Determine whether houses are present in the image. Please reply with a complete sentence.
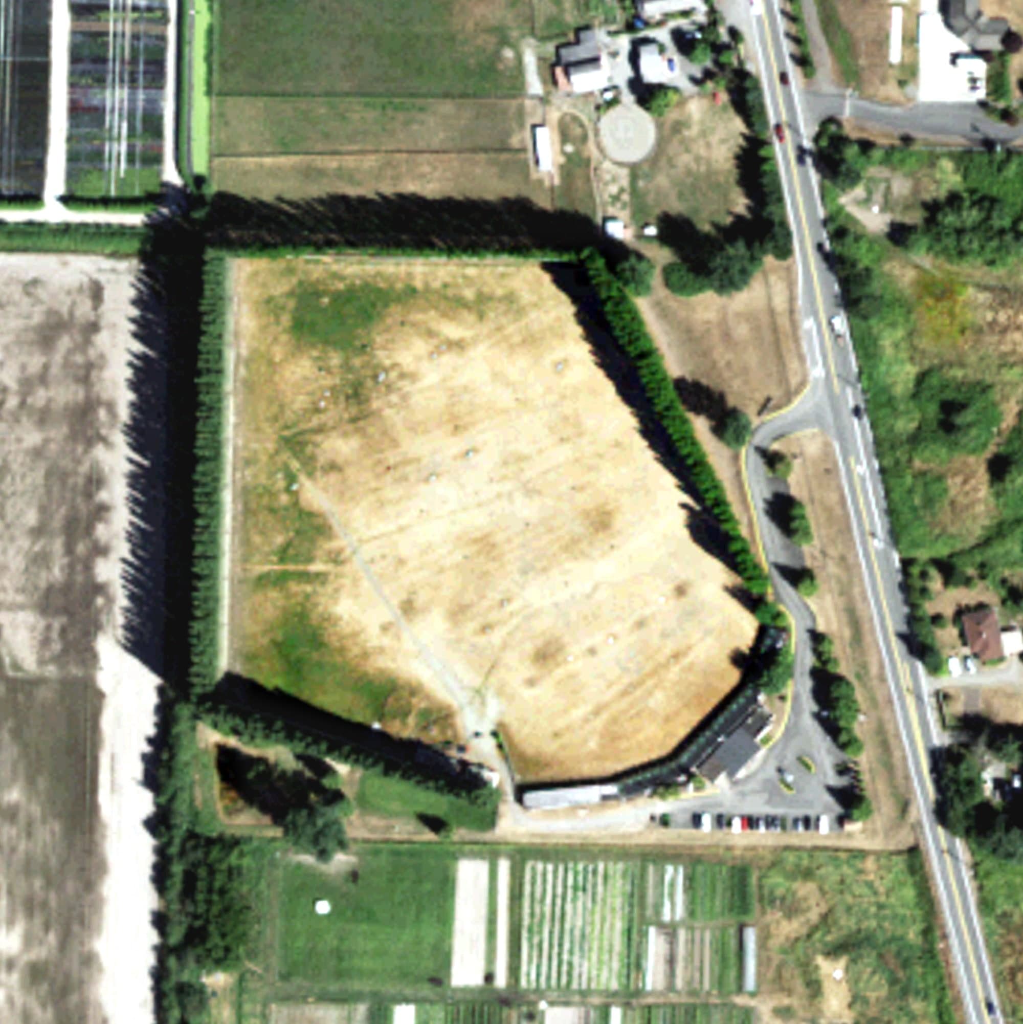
Yes, the photo shows a house.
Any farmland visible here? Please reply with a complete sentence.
Yes, the picture does contain farmland.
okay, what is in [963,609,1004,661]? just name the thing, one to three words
house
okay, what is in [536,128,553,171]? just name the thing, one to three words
barn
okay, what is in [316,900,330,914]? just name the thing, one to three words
gazebo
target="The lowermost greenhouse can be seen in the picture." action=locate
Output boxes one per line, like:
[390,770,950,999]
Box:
[744,927,757,992]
